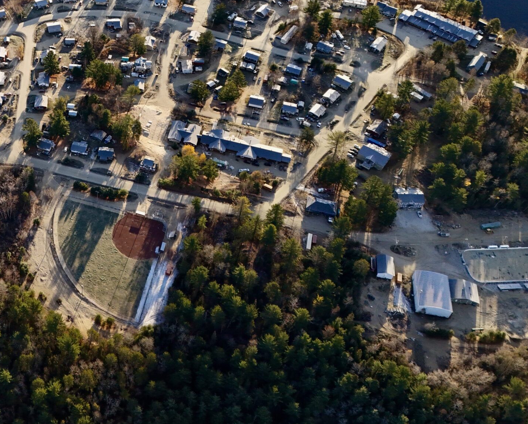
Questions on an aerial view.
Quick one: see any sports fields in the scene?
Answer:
Yes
